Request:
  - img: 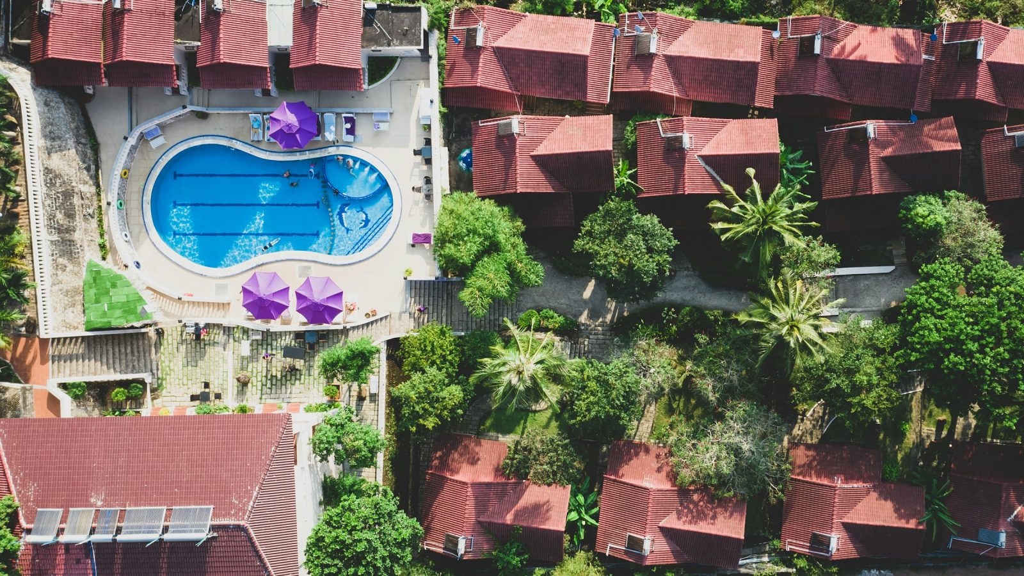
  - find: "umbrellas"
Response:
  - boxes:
[298,277,343,323]
[270,101,319,150]
[244,273,290,318]
[454,145,474,178]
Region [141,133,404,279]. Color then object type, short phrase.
blue swimming pool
